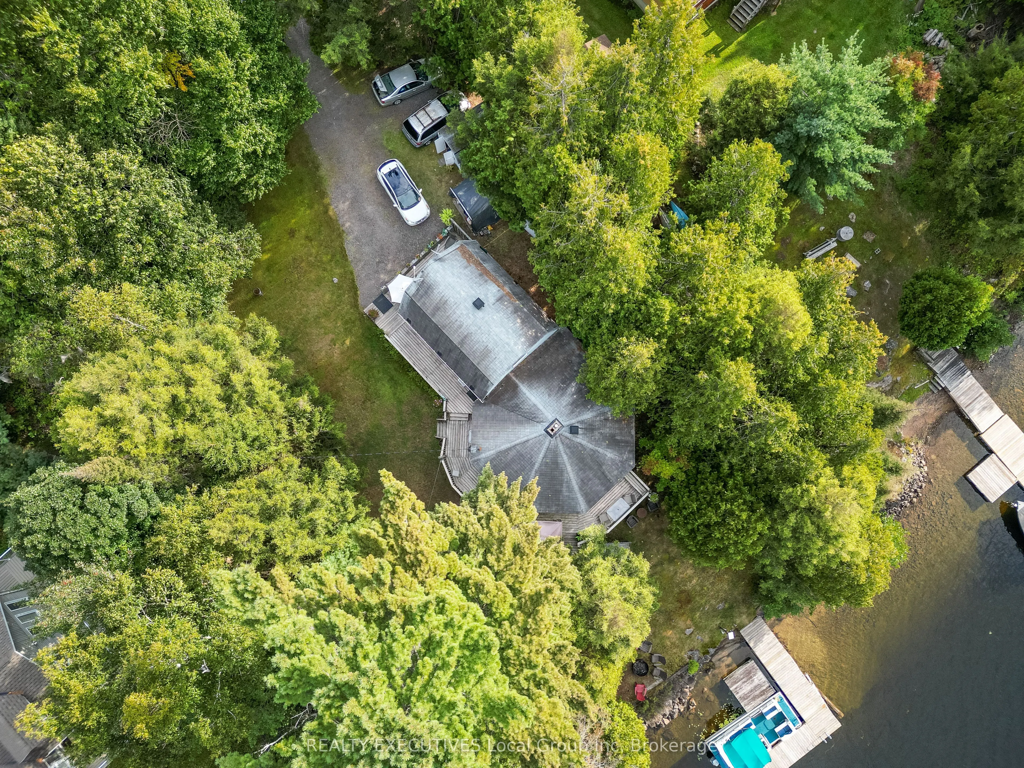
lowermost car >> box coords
[375,156,432,229]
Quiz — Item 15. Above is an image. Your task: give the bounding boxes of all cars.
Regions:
[375,156,432,229]
[404,91,463,147]
[374,53,444,105]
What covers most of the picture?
trees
